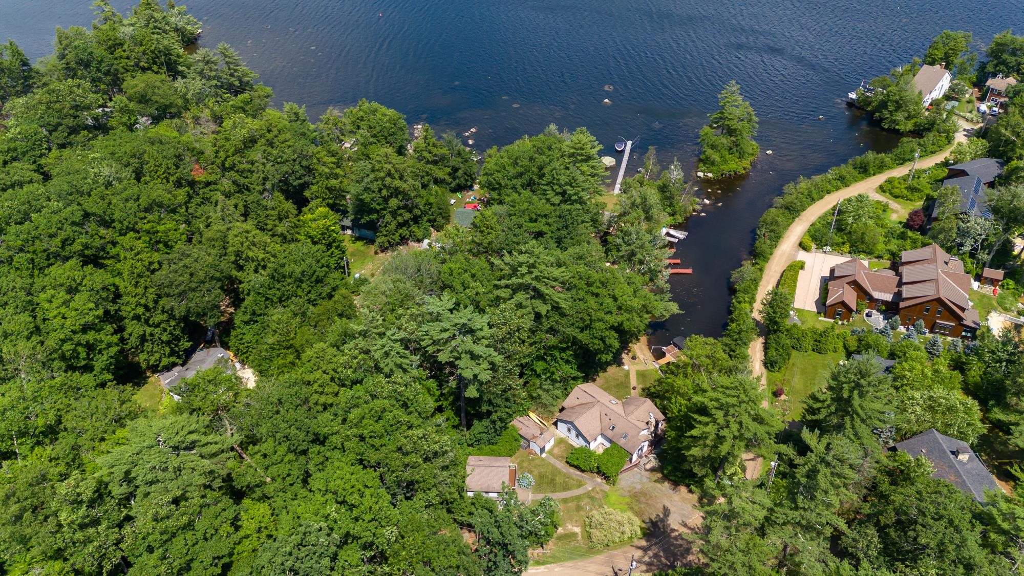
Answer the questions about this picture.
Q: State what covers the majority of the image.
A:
trees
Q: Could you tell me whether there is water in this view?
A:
Yes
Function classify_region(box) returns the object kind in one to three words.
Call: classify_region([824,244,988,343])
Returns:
house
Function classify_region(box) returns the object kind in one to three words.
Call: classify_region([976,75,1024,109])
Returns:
house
